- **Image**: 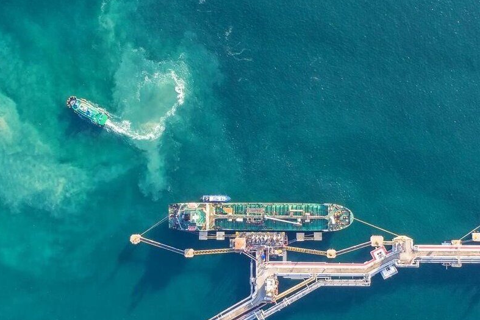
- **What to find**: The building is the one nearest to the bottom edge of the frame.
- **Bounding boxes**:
[262,274,279,304]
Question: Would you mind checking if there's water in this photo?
Yes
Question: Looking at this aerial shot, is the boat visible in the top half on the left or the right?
left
